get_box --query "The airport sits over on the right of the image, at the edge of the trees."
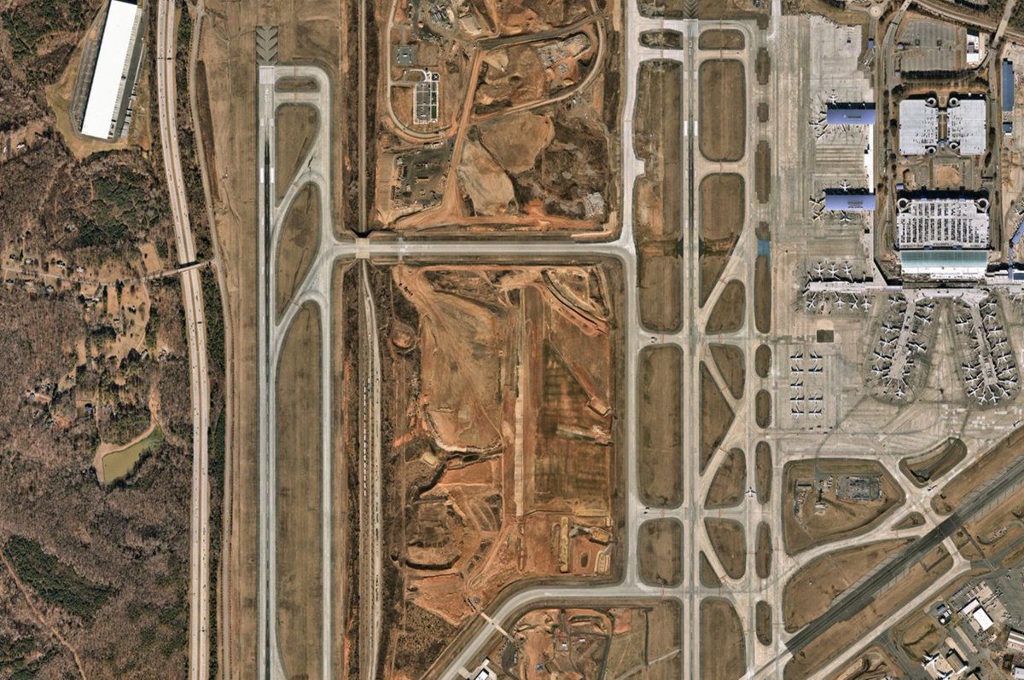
[256,0,1024,680]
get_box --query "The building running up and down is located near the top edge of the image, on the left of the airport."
[81,0,137,138]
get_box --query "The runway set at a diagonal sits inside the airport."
[785,454,1024,654]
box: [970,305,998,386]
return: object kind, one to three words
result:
building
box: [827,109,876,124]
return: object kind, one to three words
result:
building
